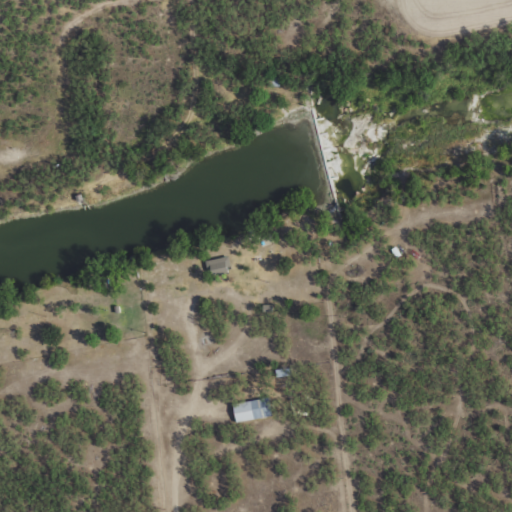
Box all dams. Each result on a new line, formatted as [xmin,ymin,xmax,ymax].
[310,92,342,214]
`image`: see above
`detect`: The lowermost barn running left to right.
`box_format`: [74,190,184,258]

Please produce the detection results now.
[234,400,272,423]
